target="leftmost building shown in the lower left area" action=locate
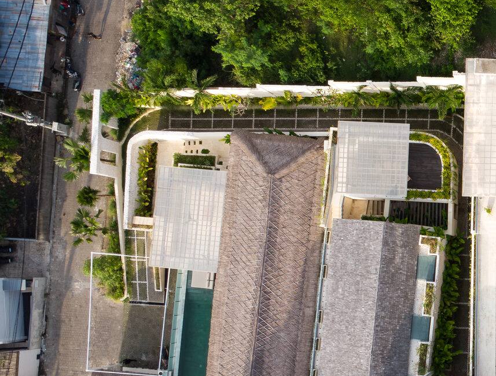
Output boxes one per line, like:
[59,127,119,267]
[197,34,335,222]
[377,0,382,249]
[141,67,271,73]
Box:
[0,279,33,344]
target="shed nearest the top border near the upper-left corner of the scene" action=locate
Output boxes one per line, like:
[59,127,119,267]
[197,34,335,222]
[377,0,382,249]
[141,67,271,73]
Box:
[0,0,60,98]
